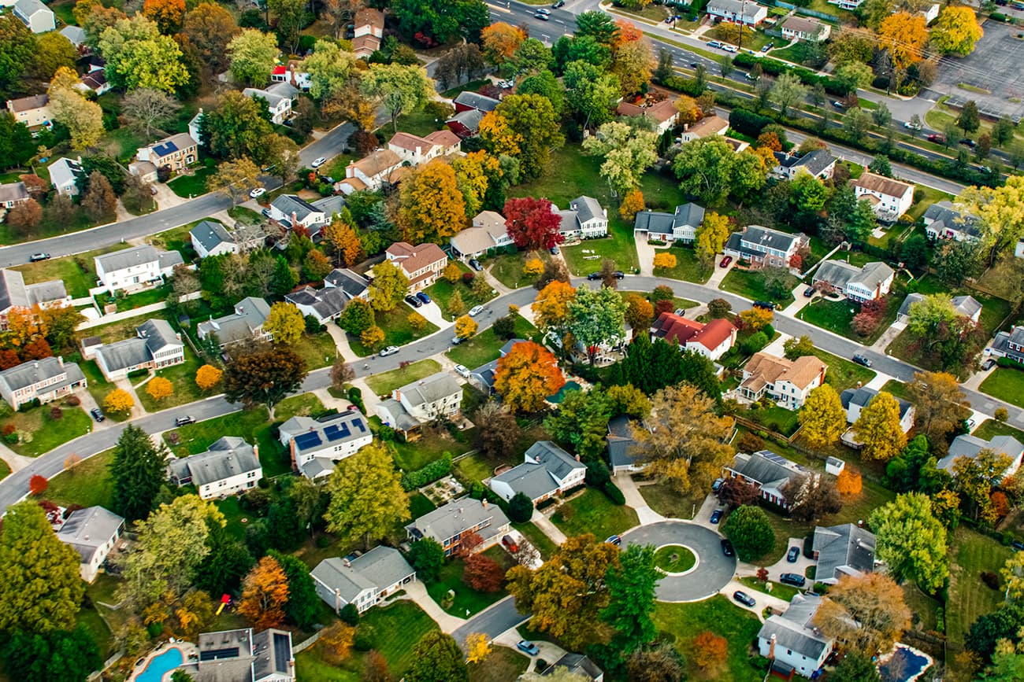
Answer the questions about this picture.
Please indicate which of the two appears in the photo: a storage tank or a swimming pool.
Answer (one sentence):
The image shows a swimming pool.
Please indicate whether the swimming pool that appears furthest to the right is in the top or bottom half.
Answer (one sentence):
Seen from above, the swimming pool that appears furthest to the right lies in the bottom half of the view.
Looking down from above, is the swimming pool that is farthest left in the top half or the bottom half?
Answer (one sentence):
The bottom half of the photo is where the swimming pool that is farthest left is.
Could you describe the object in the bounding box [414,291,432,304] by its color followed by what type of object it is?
blue vehicle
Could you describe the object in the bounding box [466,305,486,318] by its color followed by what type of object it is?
white vehicle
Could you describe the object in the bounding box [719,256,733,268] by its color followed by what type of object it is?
red vehicle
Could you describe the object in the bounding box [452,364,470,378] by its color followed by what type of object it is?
white car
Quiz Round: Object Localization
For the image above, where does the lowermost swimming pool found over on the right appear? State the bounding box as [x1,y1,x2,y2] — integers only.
[873,642,933,682]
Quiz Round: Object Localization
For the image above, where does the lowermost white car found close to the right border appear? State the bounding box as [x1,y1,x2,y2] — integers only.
[963,416,980,431]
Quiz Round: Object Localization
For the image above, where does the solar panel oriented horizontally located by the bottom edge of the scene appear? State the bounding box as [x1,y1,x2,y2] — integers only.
[201,648,239,661]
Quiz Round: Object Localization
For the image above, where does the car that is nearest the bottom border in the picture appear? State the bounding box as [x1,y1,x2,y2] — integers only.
[513,639,542,658]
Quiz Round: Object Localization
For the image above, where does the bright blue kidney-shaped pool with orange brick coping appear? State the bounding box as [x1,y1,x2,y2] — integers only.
[125,642,199,682]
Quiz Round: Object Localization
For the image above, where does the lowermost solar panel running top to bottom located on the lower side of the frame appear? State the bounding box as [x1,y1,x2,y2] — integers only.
[274,634,289,673]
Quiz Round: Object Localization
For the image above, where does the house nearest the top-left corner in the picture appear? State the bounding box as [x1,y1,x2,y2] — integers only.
[8,0,58,34]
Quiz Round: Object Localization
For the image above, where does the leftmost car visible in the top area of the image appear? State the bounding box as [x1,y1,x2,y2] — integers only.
[30,251,51,263]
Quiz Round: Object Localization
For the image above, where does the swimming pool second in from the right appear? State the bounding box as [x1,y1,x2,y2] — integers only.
[540,375,591,409]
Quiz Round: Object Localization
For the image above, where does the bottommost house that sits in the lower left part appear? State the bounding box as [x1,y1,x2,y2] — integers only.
[198,629,300,682]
